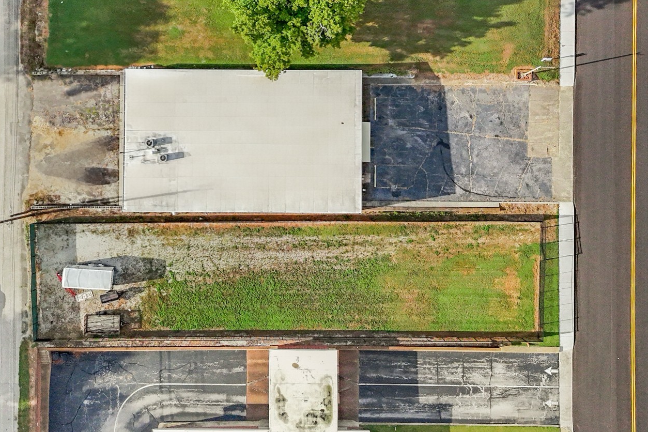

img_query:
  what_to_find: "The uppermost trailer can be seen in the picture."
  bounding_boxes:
[58,261,115,297]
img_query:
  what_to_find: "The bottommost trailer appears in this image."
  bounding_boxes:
[82,312,130,339]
